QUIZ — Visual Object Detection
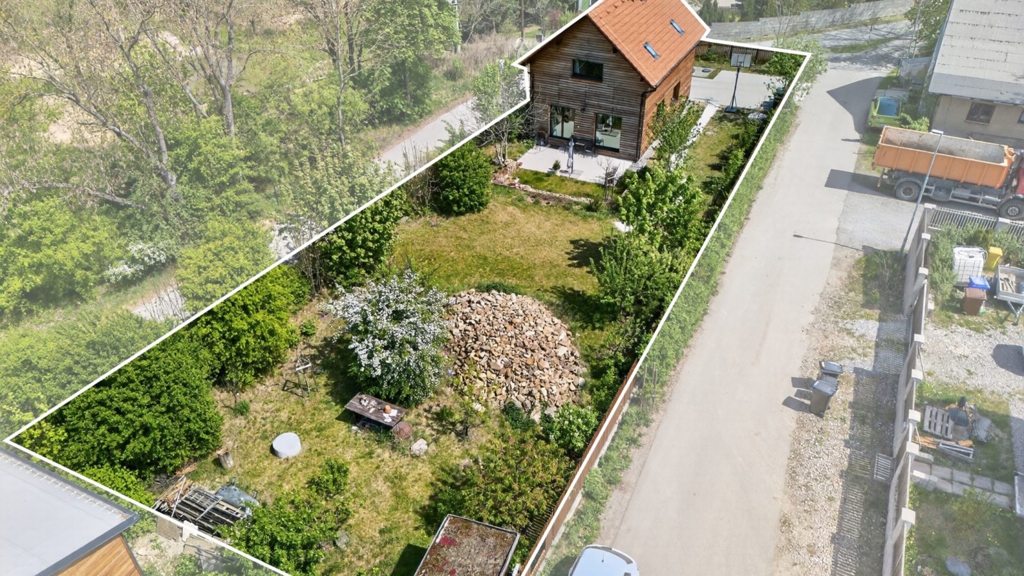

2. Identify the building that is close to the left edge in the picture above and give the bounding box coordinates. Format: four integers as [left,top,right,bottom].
[0,447,138,576]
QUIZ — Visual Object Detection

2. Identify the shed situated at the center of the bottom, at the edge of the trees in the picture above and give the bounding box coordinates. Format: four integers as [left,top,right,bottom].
[413,512,521,576]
